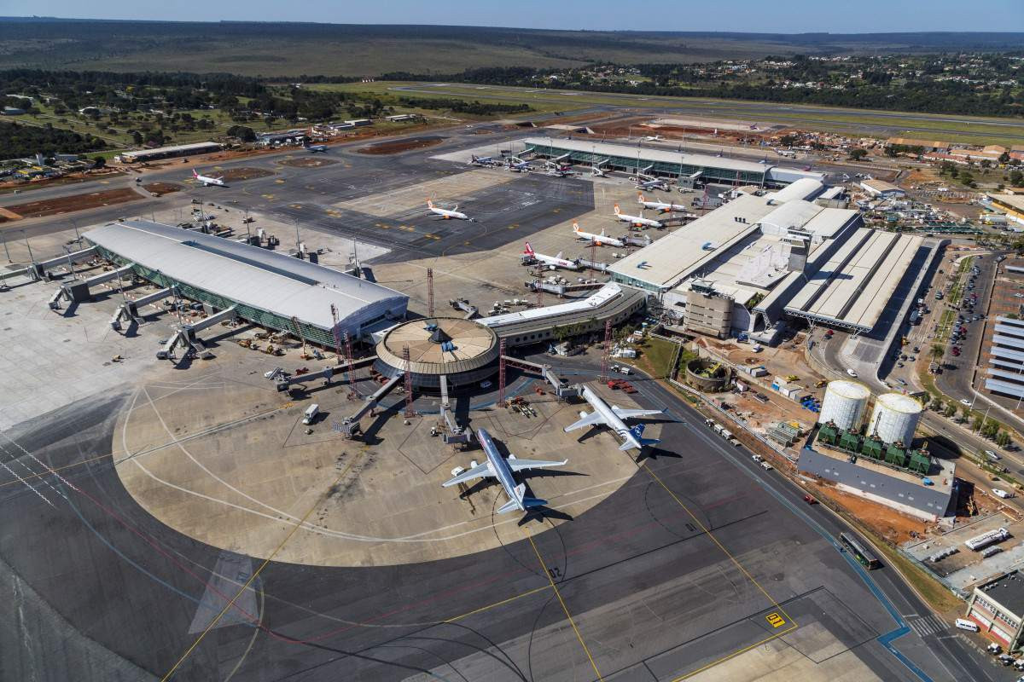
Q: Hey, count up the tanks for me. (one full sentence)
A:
My tally gives 2 tanks in this view.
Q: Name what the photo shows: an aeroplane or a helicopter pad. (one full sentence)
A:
The one in the frame is an aeroplane.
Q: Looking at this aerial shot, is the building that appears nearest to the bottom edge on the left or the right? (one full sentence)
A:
You can find the building that appears nearest to the bottom edge on the right side of the picture.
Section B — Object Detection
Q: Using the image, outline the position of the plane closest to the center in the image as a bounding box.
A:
[523,240,576,271]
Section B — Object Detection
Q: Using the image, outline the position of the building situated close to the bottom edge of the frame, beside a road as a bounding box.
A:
[967,573,1024,655]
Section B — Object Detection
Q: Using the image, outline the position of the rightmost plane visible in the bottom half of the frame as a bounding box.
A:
[565,385,664,453]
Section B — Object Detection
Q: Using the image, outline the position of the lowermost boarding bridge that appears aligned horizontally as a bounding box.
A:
[274,358,379,395]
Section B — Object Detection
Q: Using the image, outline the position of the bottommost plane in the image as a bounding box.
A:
[442,430,561,518]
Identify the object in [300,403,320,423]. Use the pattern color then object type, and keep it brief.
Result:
white vehicle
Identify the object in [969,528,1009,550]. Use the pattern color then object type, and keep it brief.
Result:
white truck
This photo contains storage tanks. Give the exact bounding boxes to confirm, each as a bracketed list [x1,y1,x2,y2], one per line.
[865,389,923,450]
[819,377,872,435]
